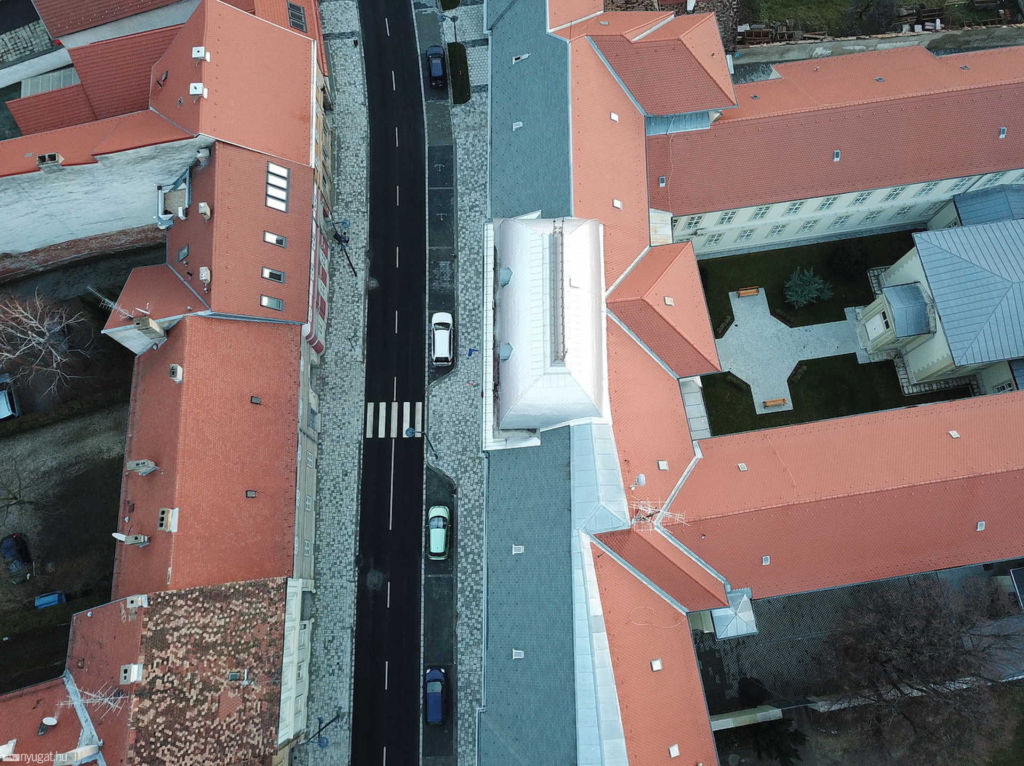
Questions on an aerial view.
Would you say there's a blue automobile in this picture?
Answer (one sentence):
Yes, looking at the shot, I can spot a blue automobile.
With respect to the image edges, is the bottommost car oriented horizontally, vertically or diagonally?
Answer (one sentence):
In this picture, the bottommost car is oriented vertically.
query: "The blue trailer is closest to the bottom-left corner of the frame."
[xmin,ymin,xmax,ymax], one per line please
[28,590,75,612]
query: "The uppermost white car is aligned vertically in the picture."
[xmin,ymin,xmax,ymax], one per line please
[429,316,454,368]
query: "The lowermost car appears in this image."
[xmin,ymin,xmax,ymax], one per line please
[421,666,449,728]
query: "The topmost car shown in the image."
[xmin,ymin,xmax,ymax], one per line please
[424,47,447,88]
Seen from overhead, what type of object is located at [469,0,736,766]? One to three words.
building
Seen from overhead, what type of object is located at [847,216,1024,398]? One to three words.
building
